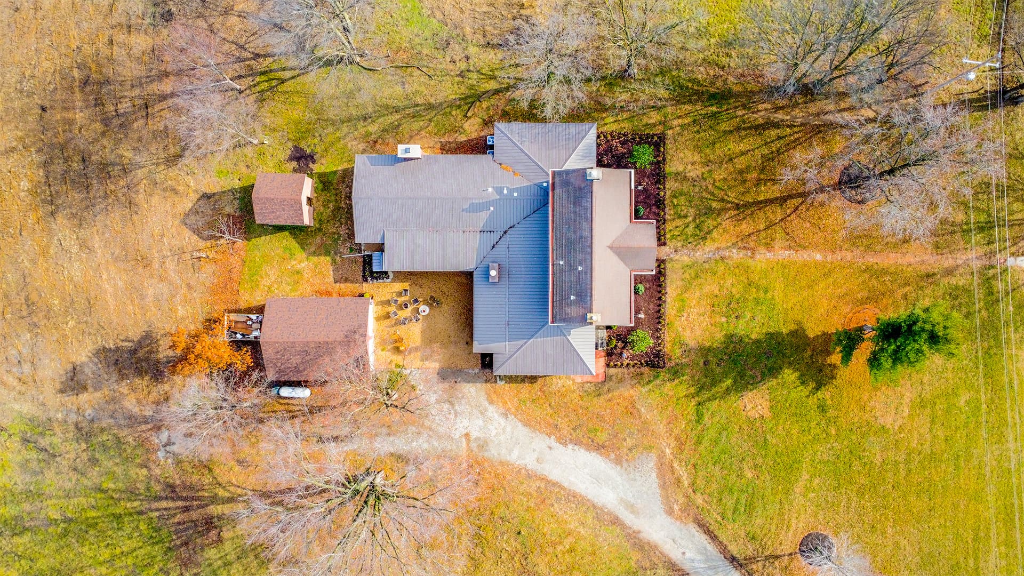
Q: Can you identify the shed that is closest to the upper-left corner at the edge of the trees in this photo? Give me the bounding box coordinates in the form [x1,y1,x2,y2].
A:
[252,175,312,225]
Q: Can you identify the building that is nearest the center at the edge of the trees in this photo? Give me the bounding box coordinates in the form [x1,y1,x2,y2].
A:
[352,121,656,376]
